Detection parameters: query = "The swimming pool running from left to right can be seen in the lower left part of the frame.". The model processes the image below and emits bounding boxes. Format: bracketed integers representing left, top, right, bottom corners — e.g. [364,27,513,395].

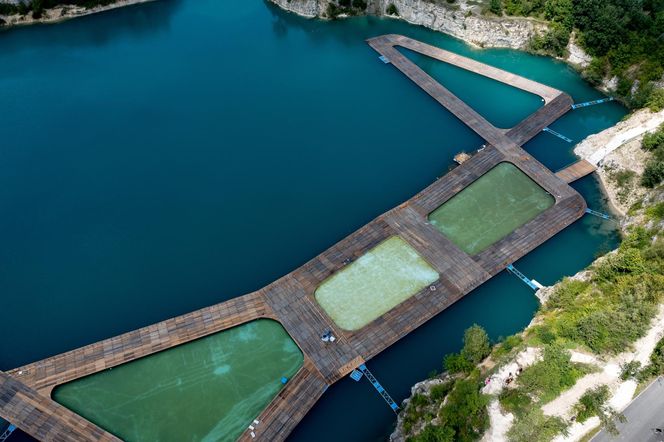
[53,317,303,442]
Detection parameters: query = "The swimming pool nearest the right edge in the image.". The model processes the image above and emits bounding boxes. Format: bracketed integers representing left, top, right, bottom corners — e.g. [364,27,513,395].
[428,159,556,255]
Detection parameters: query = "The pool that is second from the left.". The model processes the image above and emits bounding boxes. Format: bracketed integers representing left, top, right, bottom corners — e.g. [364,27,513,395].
[316,236,440,331]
